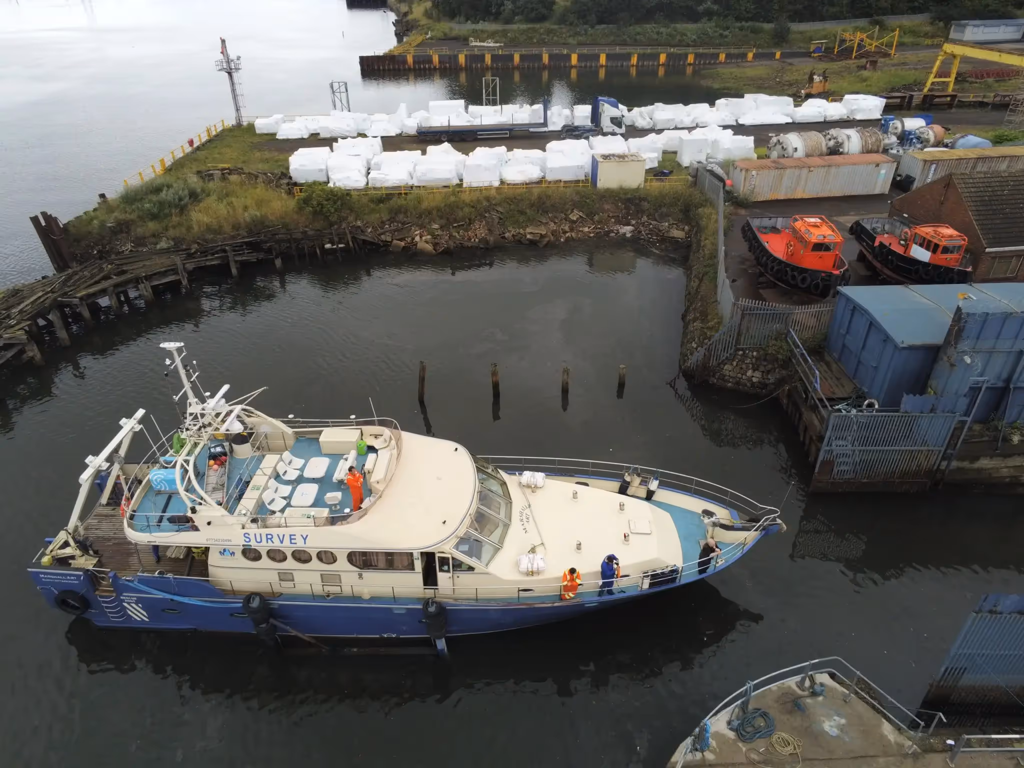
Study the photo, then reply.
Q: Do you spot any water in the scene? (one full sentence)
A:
Yes, there is water in the image.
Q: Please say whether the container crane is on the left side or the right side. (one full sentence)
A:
The container crane sits on the right side.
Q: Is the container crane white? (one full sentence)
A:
No, the container crane is actually yellow.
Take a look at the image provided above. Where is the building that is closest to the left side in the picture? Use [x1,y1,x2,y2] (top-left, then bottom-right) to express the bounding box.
[592,152,648,187]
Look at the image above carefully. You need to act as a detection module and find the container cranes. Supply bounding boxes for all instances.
[928,41,1024,89]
